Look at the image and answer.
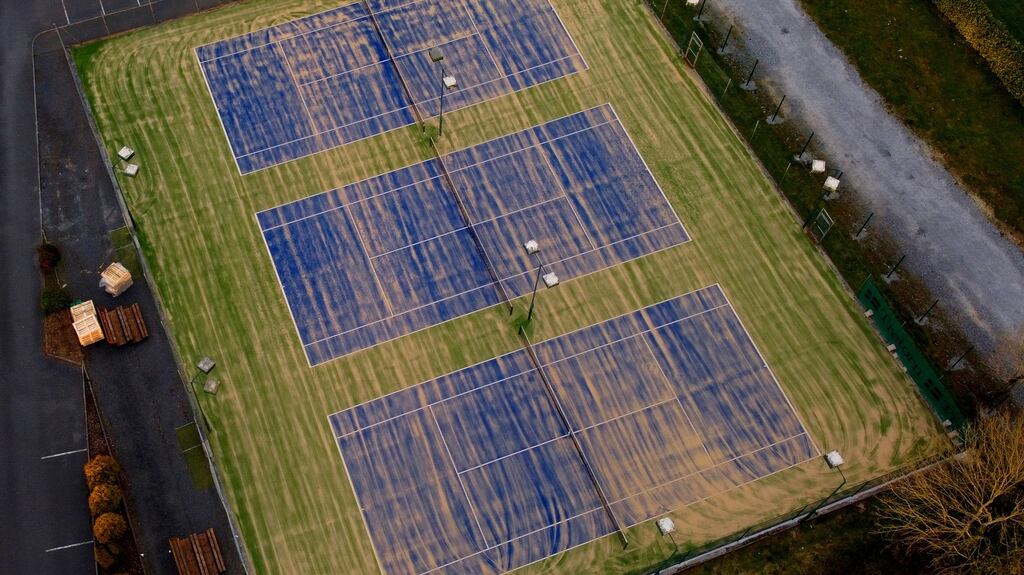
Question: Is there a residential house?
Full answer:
No, no residential house can be seen from above.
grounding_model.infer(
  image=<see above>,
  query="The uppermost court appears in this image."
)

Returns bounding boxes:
[197,0,587,174]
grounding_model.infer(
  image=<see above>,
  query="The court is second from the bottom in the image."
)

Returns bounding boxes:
[256,103,691,367]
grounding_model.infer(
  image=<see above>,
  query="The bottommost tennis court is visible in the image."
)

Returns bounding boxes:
[329,283,819,575]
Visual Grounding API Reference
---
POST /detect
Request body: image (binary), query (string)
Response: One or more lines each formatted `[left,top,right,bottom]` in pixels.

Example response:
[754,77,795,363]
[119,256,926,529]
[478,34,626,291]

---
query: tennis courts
[329,283,819,575]
[197,0,587,174]
[256,103,691,367]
